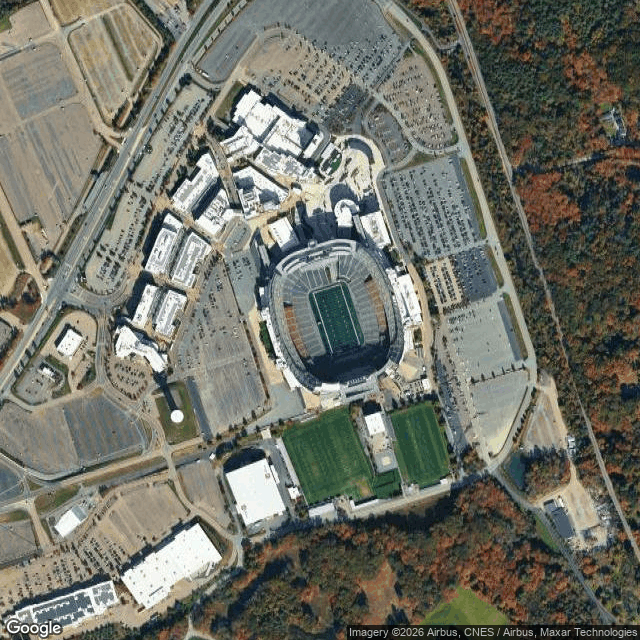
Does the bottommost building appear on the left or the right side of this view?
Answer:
left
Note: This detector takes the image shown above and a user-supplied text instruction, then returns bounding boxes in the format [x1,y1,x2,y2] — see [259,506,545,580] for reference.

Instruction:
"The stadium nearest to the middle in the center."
[269,239,406,406]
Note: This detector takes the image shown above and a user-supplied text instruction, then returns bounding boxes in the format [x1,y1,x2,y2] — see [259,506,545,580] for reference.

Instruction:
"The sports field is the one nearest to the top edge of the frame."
[309,280,365,356]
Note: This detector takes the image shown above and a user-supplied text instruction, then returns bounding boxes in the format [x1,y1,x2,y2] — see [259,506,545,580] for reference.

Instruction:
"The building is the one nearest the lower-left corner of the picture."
[2,581,119,640]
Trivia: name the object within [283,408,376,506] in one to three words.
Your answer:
sports field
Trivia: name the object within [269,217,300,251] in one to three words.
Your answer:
building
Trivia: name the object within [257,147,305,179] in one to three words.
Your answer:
building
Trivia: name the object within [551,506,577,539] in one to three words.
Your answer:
shed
